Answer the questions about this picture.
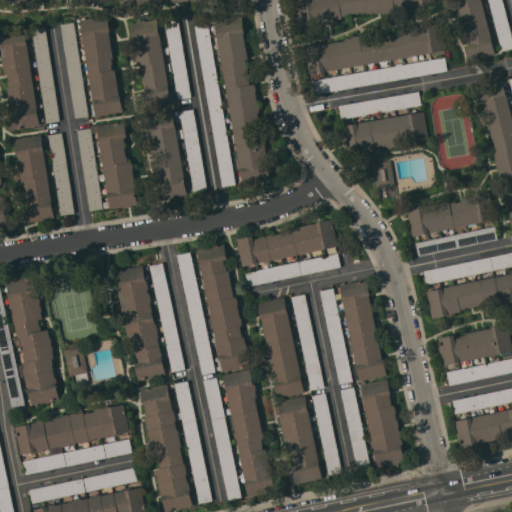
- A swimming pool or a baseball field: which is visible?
swimming pool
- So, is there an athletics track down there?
No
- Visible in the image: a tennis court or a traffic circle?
tennis court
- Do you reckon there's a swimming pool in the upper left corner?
No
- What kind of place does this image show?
residential area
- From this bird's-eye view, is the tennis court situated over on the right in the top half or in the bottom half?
top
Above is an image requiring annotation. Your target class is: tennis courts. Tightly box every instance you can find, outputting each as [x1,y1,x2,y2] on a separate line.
[432,94,476,168]
[55,285,98,340]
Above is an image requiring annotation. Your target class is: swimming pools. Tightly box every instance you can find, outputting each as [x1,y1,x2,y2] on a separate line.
[88,340,125,385]
[393,152,435,193]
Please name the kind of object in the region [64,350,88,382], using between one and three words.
building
